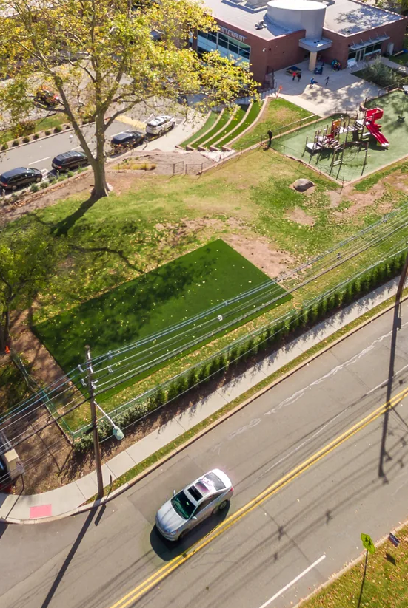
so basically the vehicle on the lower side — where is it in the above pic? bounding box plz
[149,466,235,539]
